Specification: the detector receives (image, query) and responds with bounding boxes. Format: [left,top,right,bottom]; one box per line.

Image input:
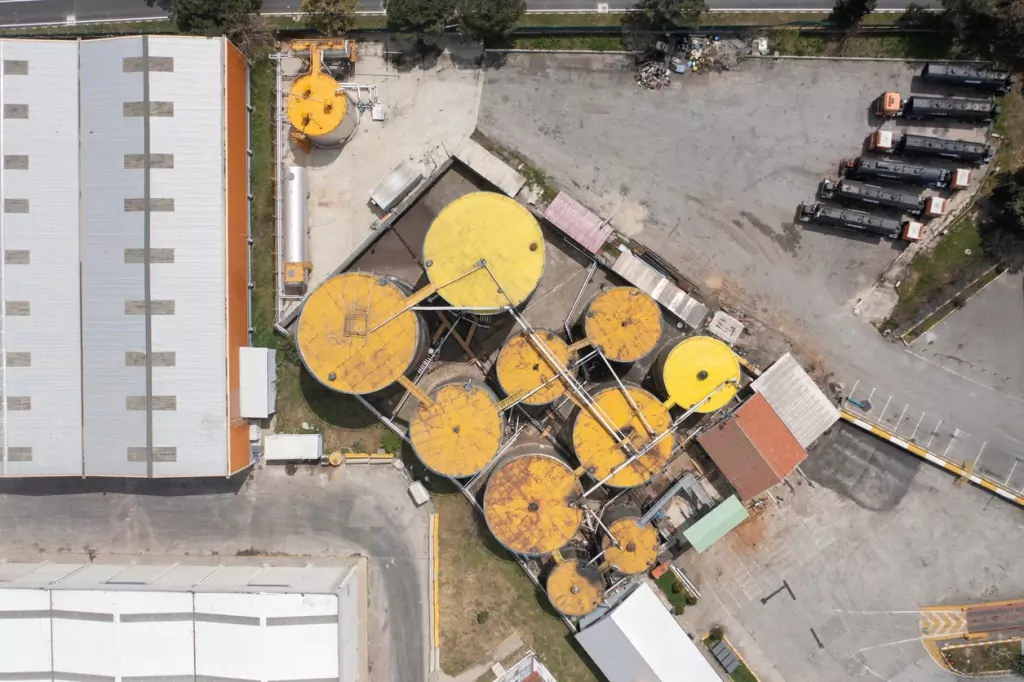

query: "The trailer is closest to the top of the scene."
[915,63,1006,92]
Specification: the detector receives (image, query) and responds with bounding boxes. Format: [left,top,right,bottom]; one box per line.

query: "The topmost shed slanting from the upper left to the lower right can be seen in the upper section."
[455,139,527,197]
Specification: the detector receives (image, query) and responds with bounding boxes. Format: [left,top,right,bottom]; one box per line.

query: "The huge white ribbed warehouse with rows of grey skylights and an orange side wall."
[0,35,255,479]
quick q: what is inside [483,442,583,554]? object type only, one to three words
storage tank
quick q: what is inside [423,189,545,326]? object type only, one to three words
storage tank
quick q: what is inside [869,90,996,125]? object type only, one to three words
truck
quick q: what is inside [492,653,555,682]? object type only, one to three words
building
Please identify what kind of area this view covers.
industrial area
